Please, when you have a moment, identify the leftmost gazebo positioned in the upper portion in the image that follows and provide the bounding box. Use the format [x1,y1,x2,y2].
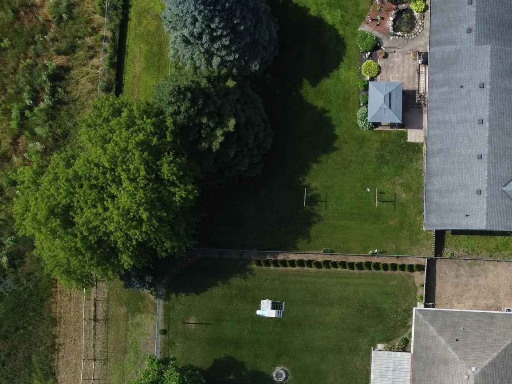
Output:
[368,81,404,129]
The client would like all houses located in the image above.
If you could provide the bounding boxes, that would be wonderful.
[410,307,512,384]
[423,0,512,236]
